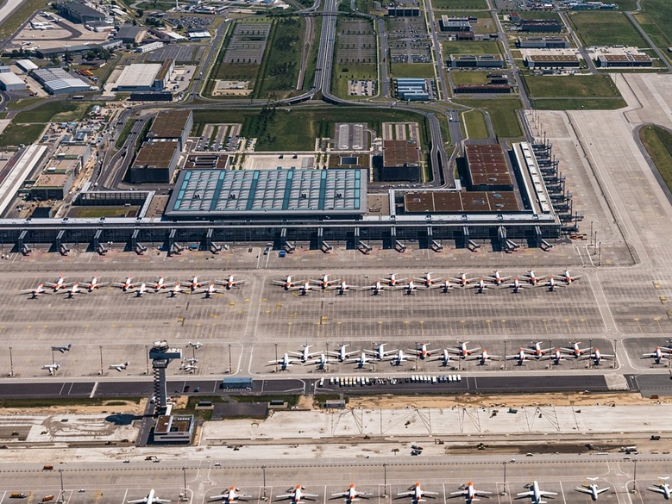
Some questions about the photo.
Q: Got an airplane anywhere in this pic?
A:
Yes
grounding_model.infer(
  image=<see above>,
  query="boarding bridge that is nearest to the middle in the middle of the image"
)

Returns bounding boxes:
[324,235,344,247]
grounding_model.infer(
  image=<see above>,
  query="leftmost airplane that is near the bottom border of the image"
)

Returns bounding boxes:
[127,487,171,504]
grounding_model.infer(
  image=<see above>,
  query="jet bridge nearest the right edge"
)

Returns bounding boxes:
[541,233,561,246]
